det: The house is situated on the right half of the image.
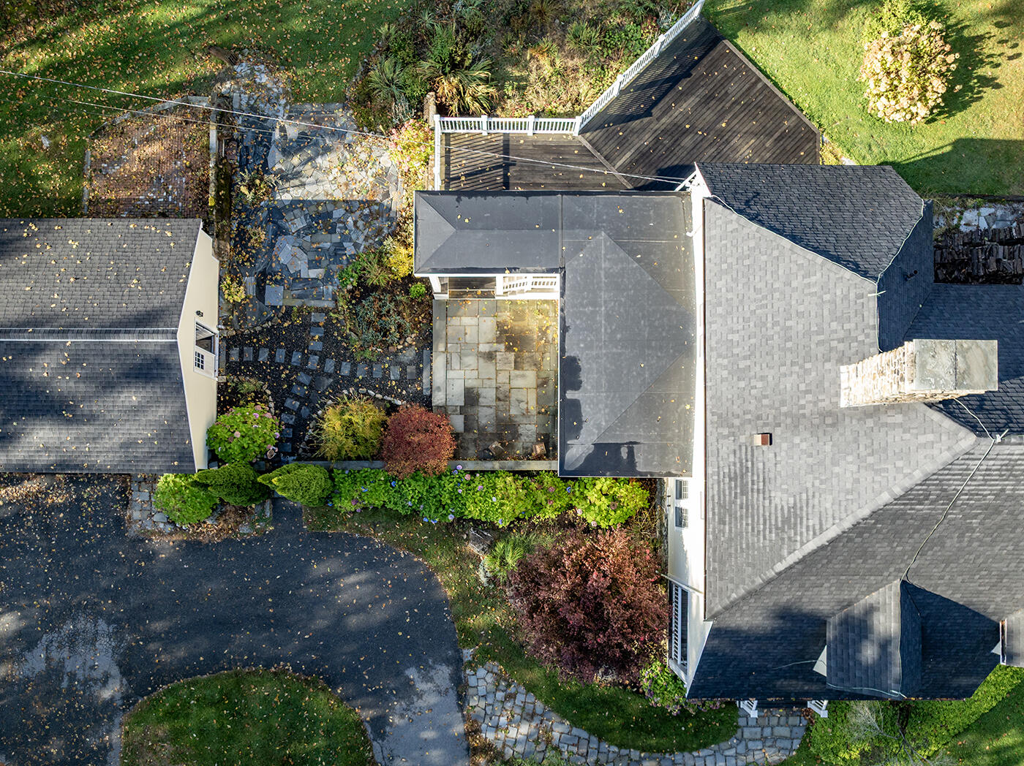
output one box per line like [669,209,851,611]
[413,162,1024,721]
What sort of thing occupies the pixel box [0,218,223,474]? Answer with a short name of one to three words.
shed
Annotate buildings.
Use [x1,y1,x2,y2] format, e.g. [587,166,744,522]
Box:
[0,218,223,474]
[413,162,1024,721]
